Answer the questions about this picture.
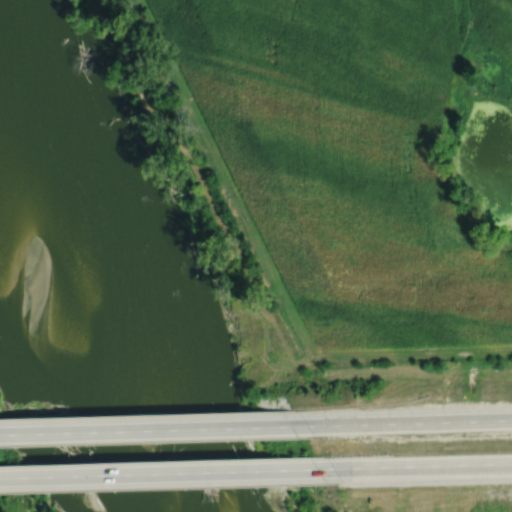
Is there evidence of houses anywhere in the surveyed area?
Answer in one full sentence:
No, I can see no house in this picture.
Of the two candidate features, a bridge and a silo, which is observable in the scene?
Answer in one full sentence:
I can see a bridge in this picture.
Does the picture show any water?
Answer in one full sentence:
Yes, water shows up in the scene.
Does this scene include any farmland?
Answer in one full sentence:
Yes, farmland can be seen from above here.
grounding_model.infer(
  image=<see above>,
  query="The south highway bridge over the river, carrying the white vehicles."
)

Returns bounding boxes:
[0,458,340,495]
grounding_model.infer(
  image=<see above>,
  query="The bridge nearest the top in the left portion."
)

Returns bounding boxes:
[0,410,318,448]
